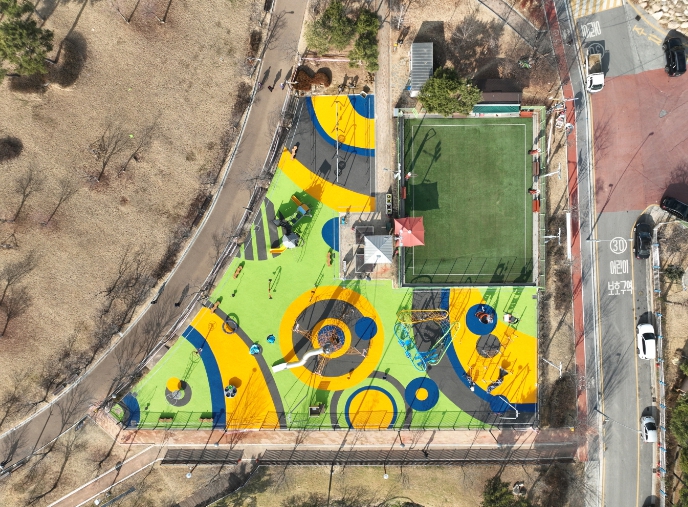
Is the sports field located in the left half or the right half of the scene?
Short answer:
right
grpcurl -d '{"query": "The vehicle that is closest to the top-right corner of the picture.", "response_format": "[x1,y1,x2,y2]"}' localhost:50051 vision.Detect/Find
[666,36,688,77]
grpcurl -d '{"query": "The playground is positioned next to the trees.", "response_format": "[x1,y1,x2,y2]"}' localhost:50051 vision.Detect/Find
[108,95,539,431]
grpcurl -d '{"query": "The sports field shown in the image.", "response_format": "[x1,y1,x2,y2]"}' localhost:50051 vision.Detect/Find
[398,111,540,284]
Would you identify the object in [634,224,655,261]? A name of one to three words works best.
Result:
car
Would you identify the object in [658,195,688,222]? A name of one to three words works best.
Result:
car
